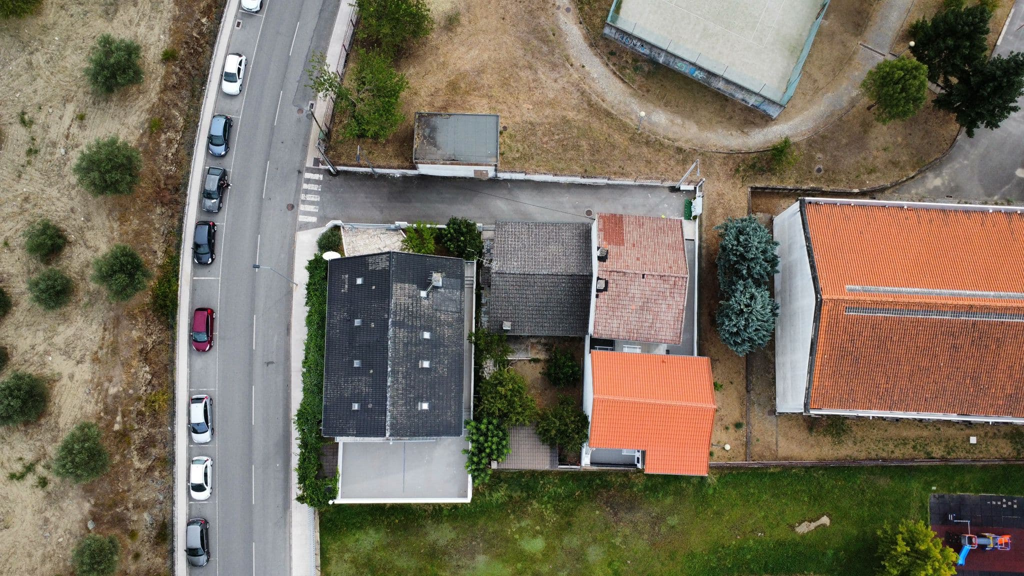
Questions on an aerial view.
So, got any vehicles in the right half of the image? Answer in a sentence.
No, no vehicle is visible in the right half of the image.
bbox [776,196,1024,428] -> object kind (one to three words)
building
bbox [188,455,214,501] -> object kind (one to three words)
car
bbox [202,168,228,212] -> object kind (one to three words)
car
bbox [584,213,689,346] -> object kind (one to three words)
house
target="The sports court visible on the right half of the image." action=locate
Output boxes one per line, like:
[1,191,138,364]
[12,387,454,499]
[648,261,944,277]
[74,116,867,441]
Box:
[603,0,835,119]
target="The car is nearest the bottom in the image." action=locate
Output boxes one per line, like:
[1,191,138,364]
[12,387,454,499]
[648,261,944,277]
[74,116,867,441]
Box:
[183,516,212,568]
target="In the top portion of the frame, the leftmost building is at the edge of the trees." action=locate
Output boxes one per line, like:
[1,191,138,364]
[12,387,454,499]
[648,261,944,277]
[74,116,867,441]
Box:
[415,113,499,175]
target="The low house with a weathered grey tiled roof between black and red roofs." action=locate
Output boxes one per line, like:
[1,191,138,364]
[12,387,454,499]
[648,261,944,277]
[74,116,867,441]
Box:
[481,220,593,337]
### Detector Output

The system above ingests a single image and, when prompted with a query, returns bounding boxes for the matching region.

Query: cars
[244,0,264,12]
[192,221,218,265]
[188,395,215,444]
[202,168,228,212]
[190,308,216,351]
[221,54,248,96]
[207,115,234,157]
[183,516,212,568]
[188,455,214,501]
